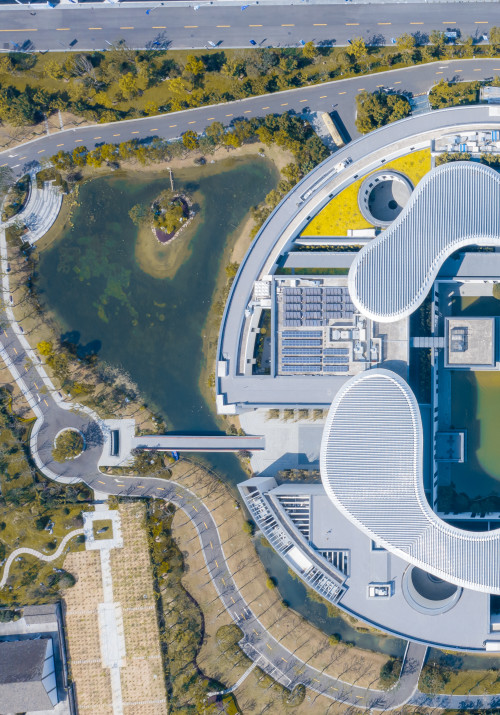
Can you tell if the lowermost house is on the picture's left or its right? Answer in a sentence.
It is on the left.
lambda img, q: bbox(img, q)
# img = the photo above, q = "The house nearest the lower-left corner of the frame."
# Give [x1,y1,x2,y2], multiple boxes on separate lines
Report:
[0,637,58,710]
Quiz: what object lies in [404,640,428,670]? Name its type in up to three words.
bridge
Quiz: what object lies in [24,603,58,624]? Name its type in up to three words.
shed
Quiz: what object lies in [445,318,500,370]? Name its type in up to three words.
building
